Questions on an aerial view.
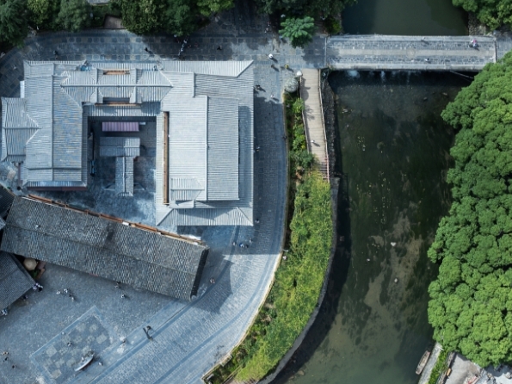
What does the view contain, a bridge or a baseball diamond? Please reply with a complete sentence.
The one in the frame is a bridge.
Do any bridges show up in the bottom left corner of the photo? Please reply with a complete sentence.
No, I see no bridge in the bottom left corner of the photo.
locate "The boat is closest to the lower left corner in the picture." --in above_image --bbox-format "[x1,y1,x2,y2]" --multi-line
[73,355,95,373]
